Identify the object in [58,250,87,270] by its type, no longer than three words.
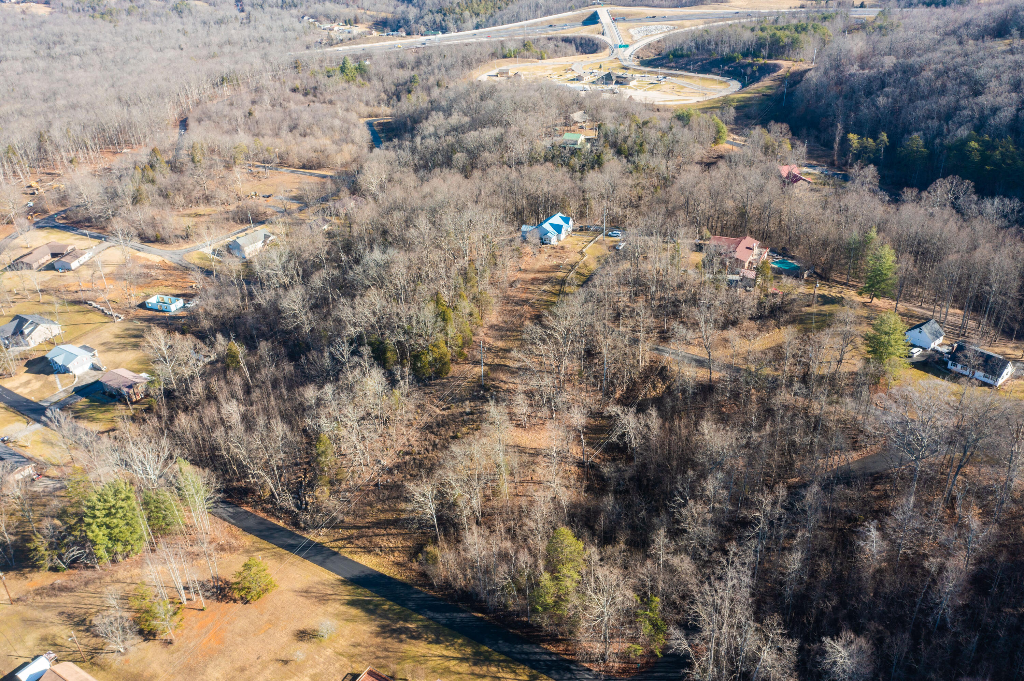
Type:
shed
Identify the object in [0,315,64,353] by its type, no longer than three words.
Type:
house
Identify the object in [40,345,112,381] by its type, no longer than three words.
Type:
house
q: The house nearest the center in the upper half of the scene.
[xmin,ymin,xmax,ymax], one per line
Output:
[520,212,574,248]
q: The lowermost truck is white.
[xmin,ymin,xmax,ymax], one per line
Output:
[13,654,62,681]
